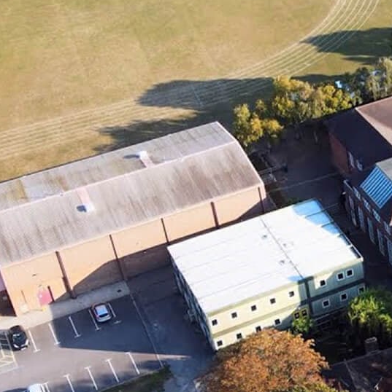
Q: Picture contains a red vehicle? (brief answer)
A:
No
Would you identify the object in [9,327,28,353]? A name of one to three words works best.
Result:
car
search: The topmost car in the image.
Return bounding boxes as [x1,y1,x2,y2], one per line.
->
[92,301,112,324]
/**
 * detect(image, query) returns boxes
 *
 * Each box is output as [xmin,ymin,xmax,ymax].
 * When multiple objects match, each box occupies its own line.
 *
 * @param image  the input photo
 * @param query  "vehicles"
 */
[9,327,28,353]
[24,382,43,392]
[92,301,112,324]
